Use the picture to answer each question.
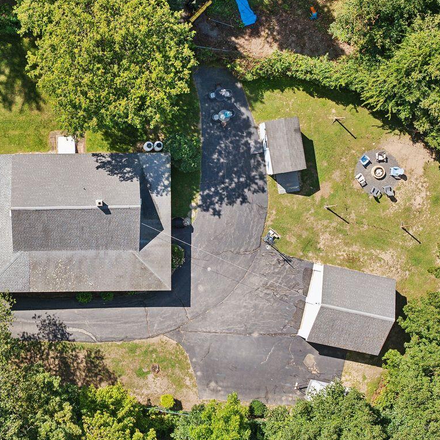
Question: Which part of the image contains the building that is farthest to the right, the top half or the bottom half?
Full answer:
The bottom half of the photo is where the building that is farthest to the right is.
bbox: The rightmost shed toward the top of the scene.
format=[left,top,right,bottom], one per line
[261,116,306,175]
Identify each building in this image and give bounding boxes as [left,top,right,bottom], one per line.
[299,265,395,356]
[261,116,306,175]
[0,136,172,293]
